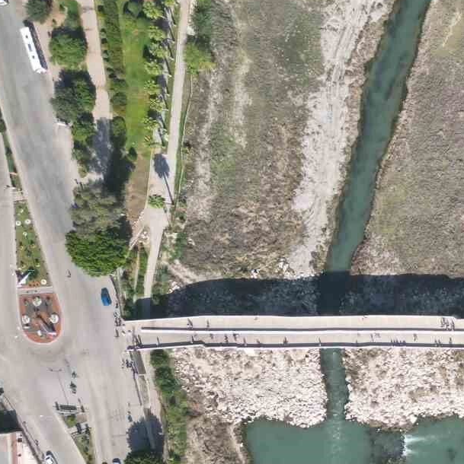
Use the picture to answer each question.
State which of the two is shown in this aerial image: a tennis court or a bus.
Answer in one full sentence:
Of the two, only a bus appears.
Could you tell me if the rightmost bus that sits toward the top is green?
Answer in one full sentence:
No, from above the rightmost bus that sits toward the top looks white.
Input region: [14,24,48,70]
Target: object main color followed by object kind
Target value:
white bus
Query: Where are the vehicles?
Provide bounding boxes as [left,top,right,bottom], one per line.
[14,24,48,70]
[101,289,112,306]
[0,0,7,6]
[46,452,58,464]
